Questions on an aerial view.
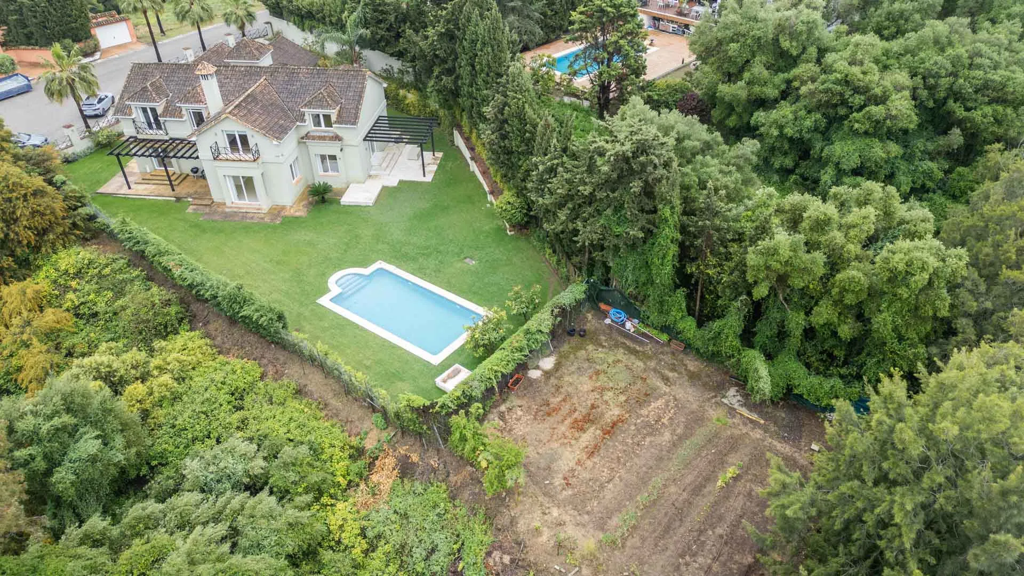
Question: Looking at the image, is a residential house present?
Yes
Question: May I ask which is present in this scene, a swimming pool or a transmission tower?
swimming pool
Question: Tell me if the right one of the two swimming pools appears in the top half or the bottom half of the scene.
top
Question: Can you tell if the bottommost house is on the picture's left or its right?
left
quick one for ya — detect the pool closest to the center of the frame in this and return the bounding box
[317,261,488,364]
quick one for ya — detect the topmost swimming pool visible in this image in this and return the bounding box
[546,41,657,80]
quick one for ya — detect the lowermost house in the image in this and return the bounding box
[114,36,391,211]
